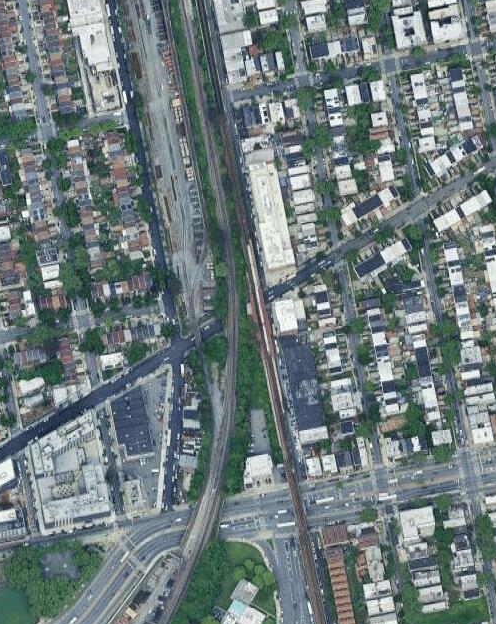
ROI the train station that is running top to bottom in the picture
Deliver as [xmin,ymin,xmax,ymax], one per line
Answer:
[244,240,285,402]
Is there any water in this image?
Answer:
No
